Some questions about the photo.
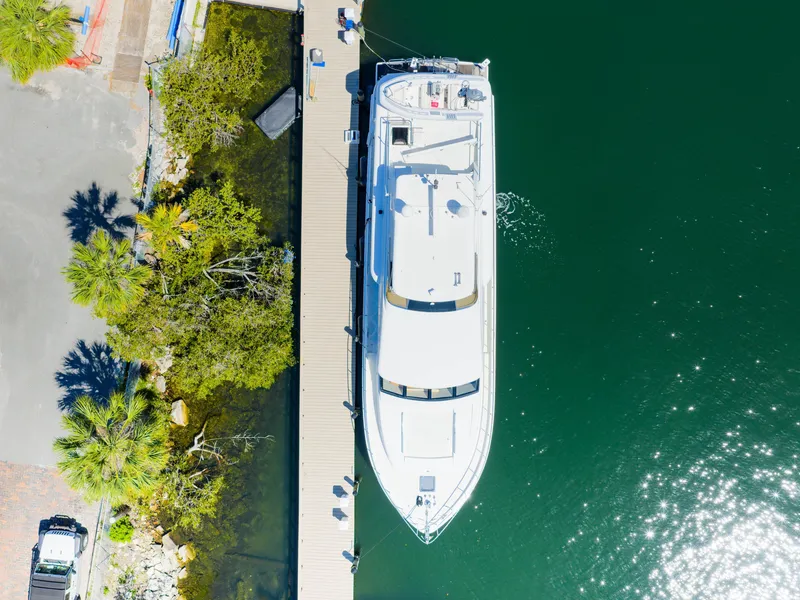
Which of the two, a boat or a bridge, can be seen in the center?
boat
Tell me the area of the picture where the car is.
bottom left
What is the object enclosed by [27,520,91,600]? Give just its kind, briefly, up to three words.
car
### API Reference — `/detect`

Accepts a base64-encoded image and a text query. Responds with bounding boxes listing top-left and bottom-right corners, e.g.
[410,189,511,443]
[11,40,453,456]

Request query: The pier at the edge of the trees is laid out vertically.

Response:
[295,0,365,600]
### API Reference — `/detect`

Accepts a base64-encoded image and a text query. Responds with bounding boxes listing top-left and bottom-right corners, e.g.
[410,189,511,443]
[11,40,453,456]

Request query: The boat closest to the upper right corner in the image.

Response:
[379,74,488,120]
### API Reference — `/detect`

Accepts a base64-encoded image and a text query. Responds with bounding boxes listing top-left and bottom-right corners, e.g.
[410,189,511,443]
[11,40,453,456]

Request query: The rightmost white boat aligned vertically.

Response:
[362,52,496,545]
